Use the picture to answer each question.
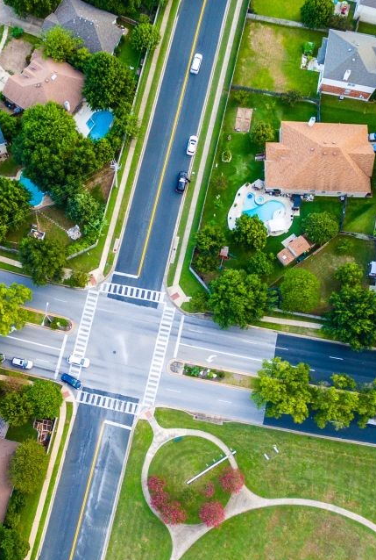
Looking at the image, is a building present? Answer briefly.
Yes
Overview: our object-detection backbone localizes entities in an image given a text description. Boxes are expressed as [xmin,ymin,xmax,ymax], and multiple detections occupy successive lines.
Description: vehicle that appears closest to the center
[176,170,190,195]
